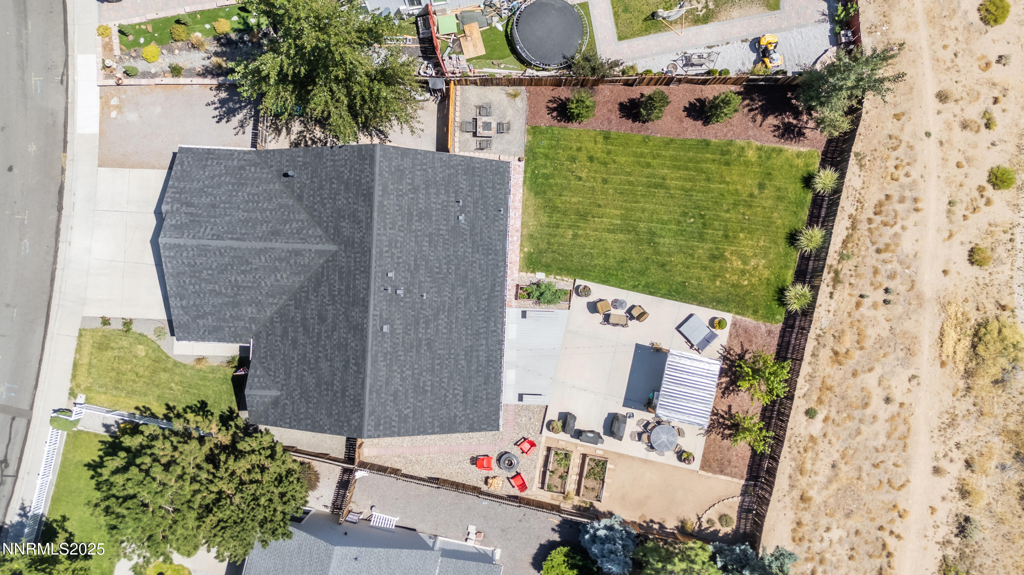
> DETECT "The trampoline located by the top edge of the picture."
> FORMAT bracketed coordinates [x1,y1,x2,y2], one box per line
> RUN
[511,0,591,70]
